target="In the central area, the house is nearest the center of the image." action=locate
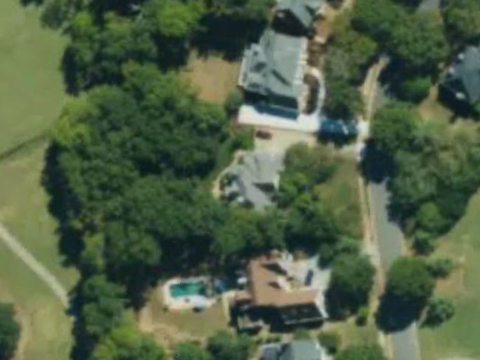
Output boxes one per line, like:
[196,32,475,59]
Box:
[227,142,285,212]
